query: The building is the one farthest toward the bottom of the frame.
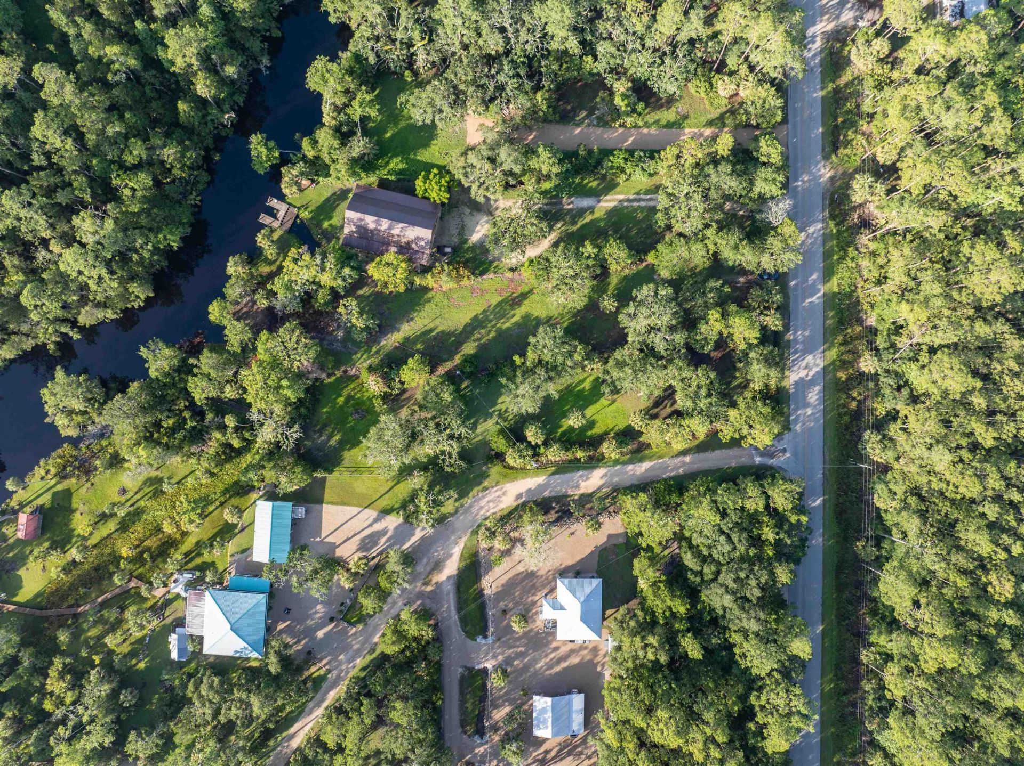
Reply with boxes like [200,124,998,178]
[533,691,585,741]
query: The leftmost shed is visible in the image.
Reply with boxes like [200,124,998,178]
[17,503,50,539]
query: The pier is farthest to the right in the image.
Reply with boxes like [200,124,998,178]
[257,196,299,232]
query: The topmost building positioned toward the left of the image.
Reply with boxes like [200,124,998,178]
[343,184,440,264]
